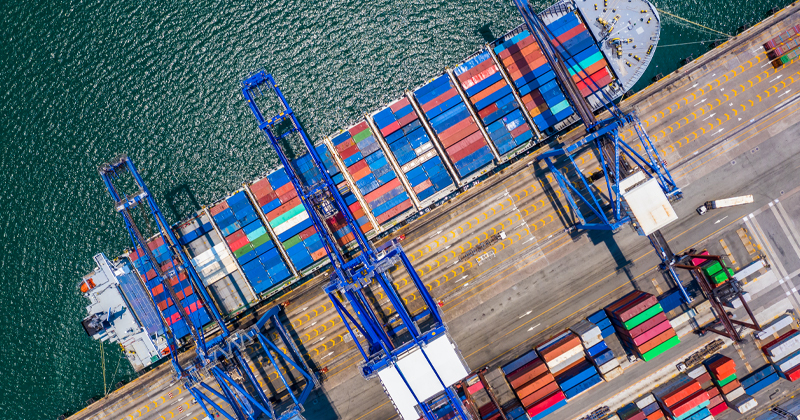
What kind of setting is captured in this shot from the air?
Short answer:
port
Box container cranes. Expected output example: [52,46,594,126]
[458,370,508,420]
[234,66,475,420]
[671,249,767,345]
[516,0,694,306]
[86,151,329,420]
